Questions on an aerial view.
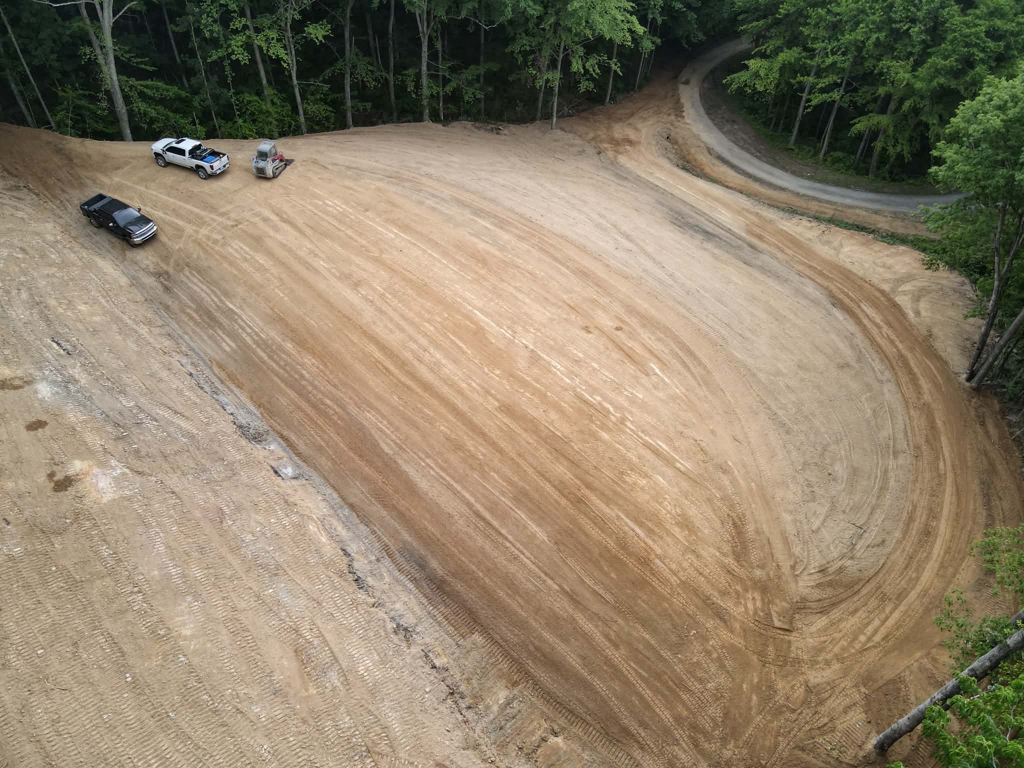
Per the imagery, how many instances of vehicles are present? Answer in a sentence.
The count of vehicles comes to 3.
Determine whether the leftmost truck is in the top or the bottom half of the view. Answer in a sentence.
The leftmost truck sits in the top half of the picture.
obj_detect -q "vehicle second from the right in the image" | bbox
[149,139,232,180]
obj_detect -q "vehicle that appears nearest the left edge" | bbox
[81,195,162,248]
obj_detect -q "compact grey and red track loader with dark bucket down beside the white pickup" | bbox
[250,140,293,178]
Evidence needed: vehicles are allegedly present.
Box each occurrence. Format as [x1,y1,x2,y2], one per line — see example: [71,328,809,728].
[149,139,232,180]
[250,140,293,178]
[81,195,162,248]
